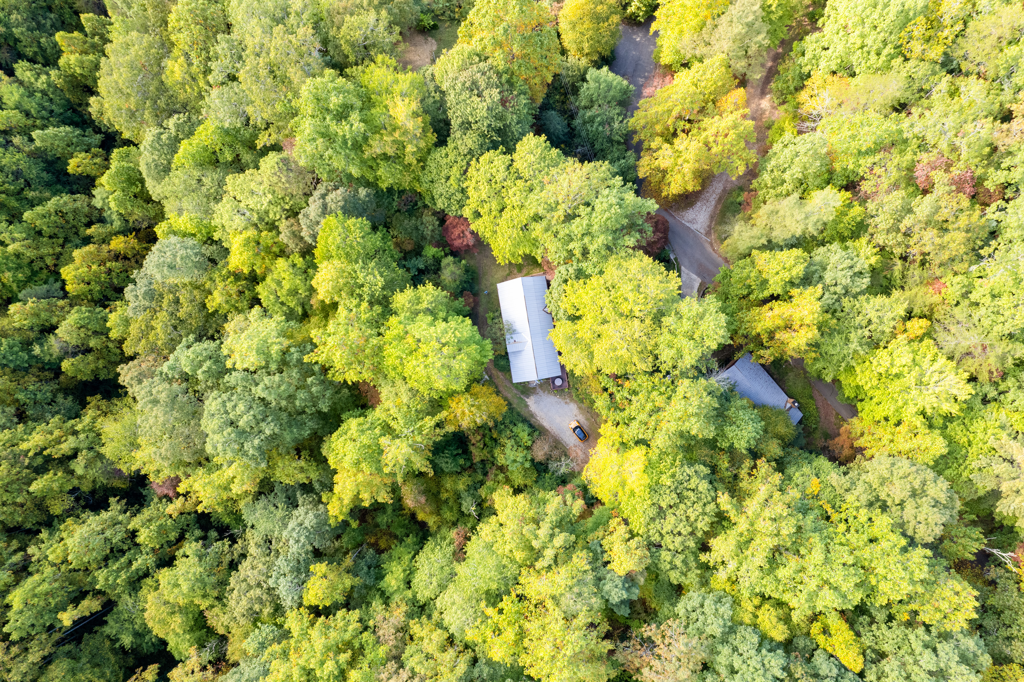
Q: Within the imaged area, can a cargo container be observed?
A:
No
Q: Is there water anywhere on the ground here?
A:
No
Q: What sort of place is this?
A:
forest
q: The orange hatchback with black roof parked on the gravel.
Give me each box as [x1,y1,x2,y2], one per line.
[569,420,588,442]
